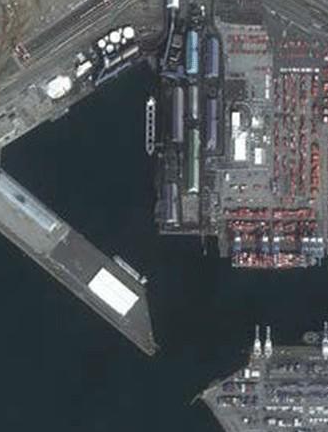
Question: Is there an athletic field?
No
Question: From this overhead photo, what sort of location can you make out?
port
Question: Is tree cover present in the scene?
No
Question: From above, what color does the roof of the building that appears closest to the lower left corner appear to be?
white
